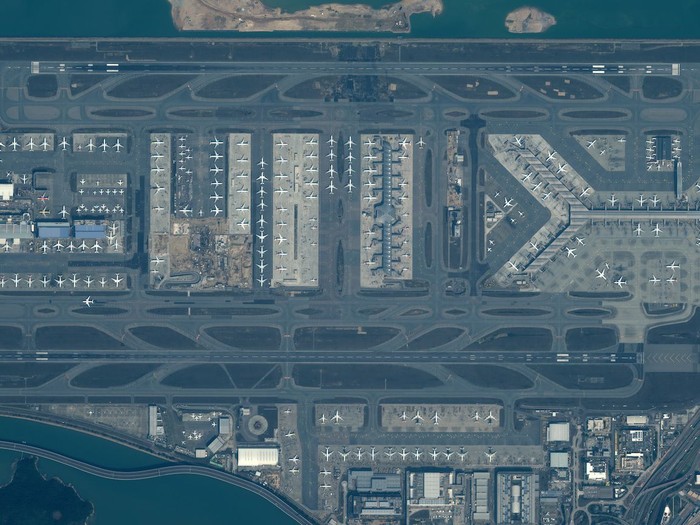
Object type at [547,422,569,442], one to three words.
hangar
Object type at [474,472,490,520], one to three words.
building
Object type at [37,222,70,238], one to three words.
hangar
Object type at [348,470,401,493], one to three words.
building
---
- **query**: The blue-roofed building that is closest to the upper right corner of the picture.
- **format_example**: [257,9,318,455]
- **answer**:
[657,136,671,159]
